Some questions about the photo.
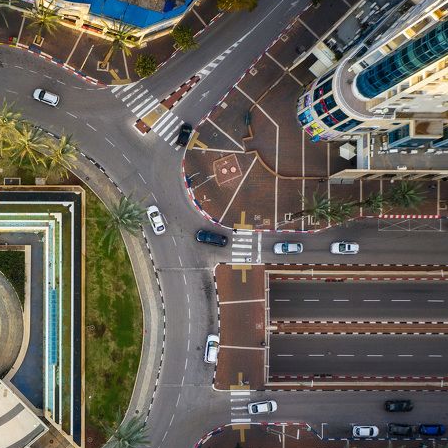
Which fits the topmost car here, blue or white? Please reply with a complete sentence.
In this view, the topmost car is white.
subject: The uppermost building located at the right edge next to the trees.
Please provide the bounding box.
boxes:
[296,0,448,144]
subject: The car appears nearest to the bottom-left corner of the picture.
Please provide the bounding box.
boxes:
[206,336,222,362]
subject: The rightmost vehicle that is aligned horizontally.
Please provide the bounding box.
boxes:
[421,425,447,437]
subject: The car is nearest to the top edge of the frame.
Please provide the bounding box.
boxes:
[31,86,62,106]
